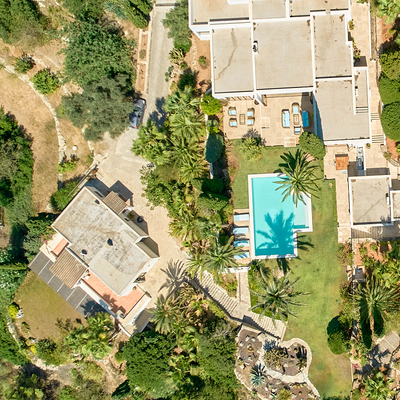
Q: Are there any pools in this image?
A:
Yes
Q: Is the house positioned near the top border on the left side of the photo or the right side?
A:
right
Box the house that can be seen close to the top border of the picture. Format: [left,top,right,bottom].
[189,0,371,147]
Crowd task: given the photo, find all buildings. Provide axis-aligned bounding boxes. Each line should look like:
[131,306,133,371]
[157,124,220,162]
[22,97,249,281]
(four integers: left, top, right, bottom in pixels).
[189,0,371,147]
[349,176,400,227]
[39,186,161,332]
